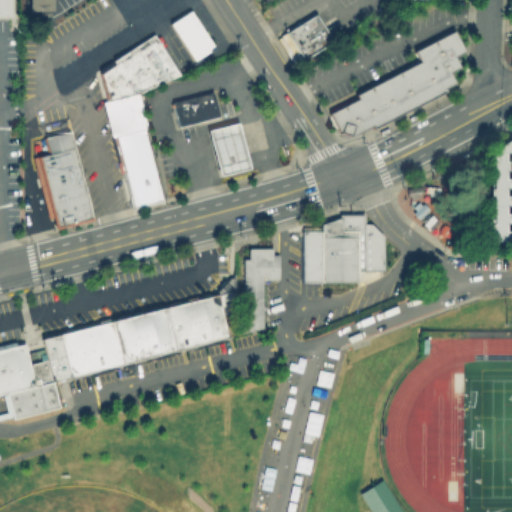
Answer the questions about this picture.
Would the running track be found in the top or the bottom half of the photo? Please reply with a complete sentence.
Seen from above, the running track lies in the bottom half of the view.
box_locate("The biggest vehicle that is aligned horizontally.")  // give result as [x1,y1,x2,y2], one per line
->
[130,245,160,258]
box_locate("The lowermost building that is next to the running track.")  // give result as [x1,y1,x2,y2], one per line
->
[362,480,404,512]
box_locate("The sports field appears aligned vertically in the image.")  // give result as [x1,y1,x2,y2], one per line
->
[465,362,512,512]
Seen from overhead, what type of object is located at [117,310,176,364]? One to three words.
building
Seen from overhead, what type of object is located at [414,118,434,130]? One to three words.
vehicle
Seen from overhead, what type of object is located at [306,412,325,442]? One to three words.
tent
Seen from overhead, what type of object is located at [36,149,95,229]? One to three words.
building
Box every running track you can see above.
[386,339,512,512]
